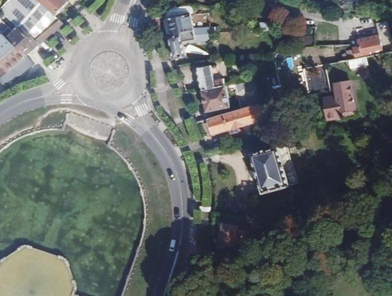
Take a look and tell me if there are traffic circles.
Yes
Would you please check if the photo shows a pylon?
No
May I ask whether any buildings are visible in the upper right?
Yes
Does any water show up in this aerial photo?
Yes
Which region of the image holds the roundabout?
top left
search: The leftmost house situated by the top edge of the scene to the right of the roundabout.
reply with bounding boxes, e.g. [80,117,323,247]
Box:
[166,7,210,61]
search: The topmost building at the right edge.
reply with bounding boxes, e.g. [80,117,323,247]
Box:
[352,34,383,58]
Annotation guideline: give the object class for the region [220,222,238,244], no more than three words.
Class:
house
